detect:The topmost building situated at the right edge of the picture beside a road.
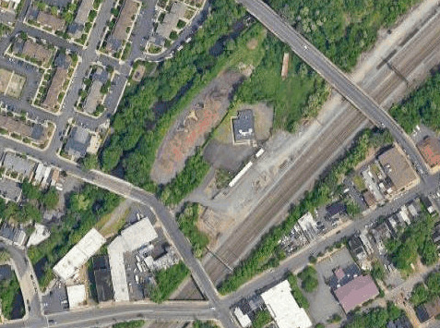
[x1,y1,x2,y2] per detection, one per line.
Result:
[416,135,440,168]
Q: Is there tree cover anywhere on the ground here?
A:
Yes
